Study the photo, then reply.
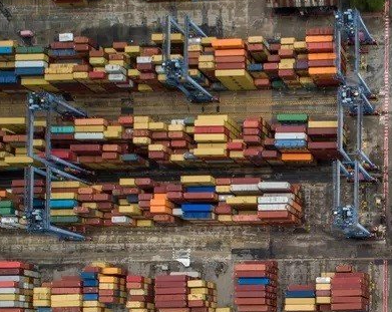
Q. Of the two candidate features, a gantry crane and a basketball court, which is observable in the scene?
gantry crane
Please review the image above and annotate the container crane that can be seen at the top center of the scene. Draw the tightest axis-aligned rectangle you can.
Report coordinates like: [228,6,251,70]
[164,11,215,99]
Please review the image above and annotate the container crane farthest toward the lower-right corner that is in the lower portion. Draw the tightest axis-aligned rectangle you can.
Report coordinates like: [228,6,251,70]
[333,158,371,239]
